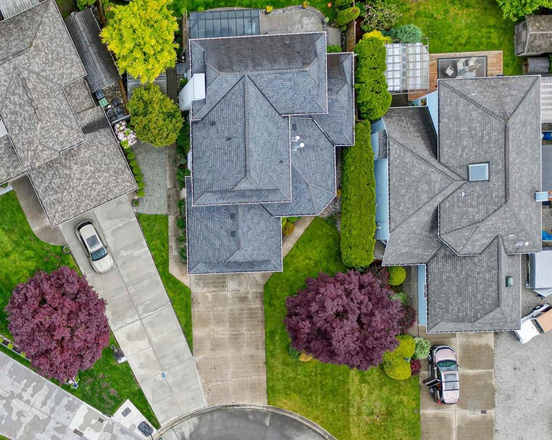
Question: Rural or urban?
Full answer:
The area is urban.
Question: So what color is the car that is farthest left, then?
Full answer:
In this view, the car that is farthest left is white.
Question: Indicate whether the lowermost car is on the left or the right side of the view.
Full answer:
It is on the right.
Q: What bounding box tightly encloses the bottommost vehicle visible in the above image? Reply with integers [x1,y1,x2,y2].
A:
[421,346,459,403]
